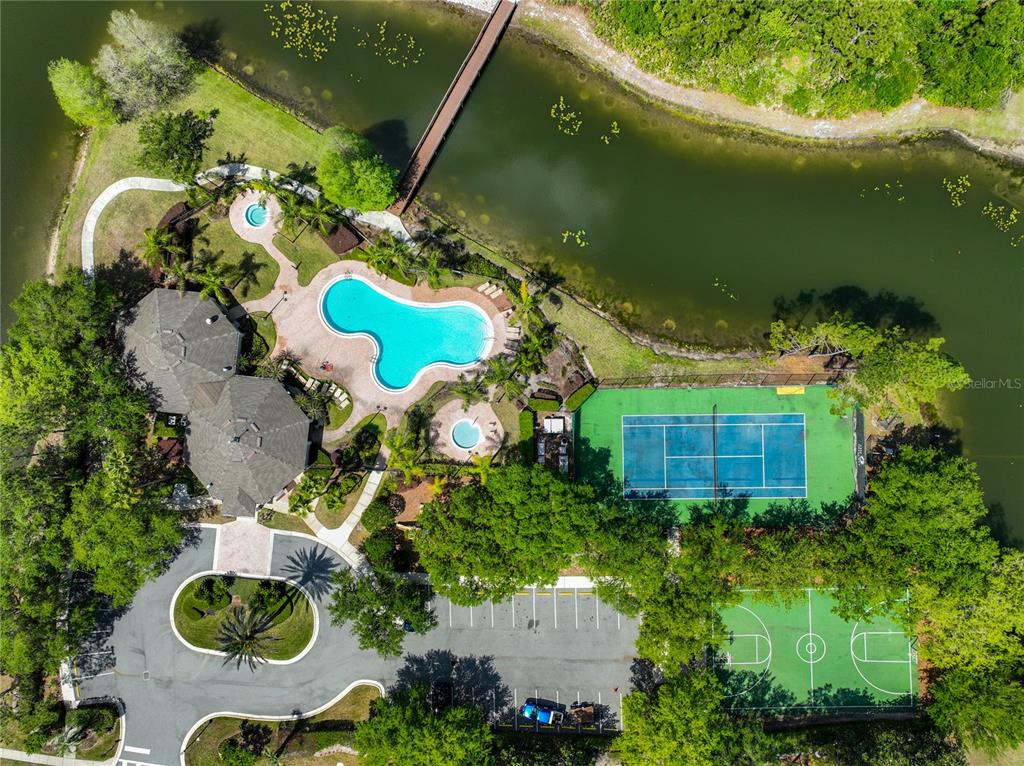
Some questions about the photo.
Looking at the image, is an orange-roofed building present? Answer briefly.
No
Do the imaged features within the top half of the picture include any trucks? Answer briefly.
No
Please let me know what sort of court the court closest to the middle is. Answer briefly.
tennis court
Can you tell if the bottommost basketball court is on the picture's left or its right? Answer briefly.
right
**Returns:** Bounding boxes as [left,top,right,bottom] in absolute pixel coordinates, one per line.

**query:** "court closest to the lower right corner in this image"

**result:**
[704,580,919,715]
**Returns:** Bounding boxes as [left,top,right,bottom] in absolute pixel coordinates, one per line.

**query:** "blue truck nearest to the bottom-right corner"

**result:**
[517,703,567,729]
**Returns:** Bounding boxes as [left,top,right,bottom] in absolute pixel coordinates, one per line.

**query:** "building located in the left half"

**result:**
[110,287,311,522]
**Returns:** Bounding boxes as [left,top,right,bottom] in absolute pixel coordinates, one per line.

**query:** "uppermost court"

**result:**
[575,385,858,527]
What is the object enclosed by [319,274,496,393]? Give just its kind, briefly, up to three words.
swimming pool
